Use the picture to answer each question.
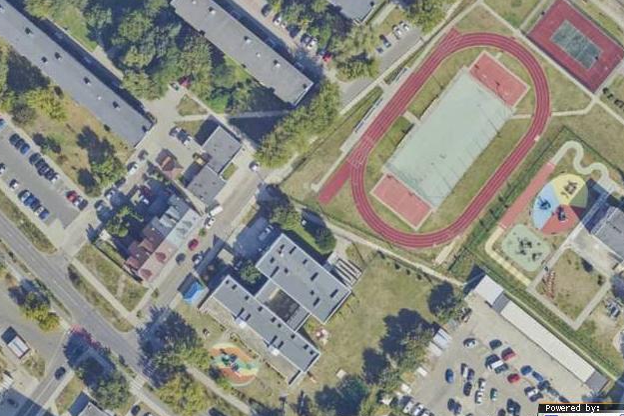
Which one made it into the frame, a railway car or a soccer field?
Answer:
soccer field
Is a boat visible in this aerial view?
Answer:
No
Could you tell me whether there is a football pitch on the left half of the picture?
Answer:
No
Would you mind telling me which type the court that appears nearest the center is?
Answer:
basketball court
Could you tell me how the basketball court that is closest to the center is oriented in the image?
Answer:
at an angle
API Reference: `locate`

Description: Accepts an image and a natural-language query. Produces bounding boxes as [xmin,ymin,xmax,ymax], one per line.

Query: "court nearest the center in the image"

[370,171,435,232]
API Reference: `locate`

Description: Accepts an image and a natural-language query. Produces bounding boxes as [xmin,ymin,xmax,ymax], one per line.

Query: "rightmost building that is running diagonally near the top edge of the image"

[170,0,313,105]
